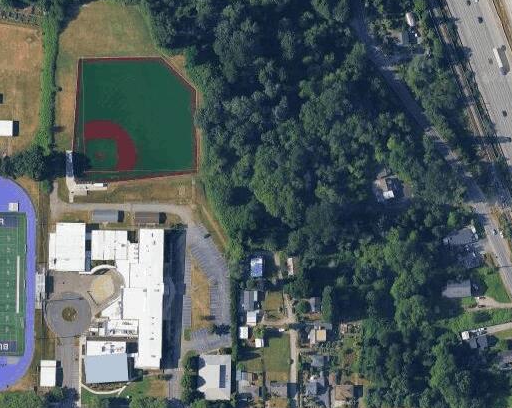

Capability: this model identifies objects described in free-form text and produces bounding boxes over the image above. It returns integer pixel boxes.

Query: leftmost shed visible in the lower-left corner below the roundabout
[40,360,56,386]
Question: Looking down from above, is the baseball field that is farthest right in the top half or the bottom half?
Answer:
top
